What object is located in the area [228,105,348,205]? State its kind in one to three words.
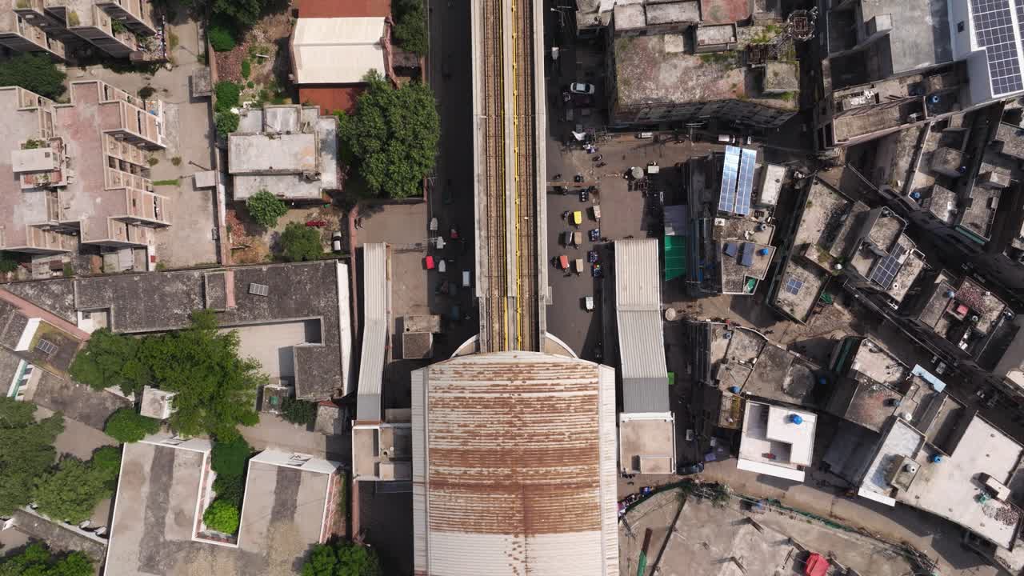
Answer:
house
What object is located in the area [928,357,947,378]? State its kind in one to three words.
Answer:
car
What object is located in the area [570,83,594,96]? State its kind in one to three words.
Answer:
vehicle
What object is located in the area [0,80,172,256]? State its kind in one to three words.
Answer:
building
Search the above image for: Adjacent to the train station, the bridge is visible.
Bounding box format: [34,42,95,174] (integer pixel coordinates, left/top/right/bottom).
[470,0,554,352]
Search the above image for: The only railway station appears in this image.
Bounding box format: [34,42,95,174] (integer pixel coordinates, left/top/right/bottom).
[412,331,619,576]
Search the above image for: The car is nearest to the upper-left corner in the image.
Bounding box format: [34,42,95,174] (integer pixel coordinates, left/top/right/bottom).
[331,230,344,252]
